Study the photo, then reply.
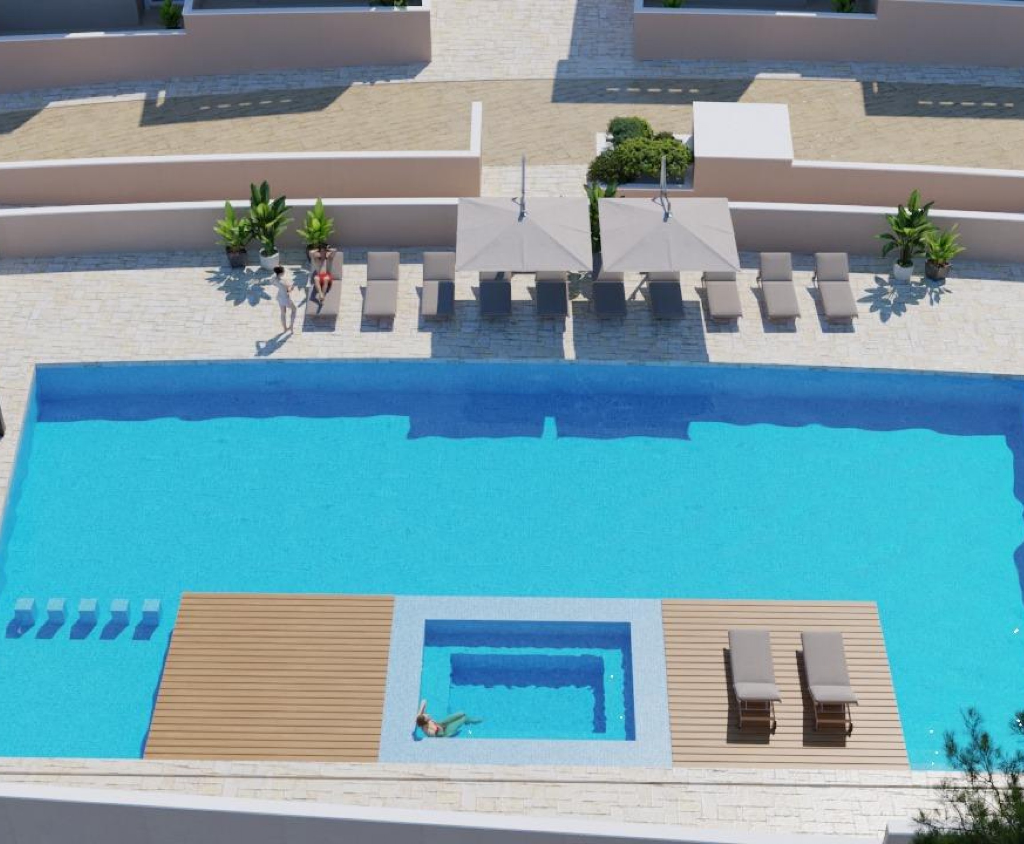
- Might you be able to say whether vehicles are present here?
No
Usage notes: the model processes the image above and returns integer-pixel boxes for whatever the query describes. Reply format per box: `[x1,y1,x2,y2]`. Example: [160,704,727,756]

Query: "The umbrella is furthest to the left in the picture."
[456,155,593,272]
